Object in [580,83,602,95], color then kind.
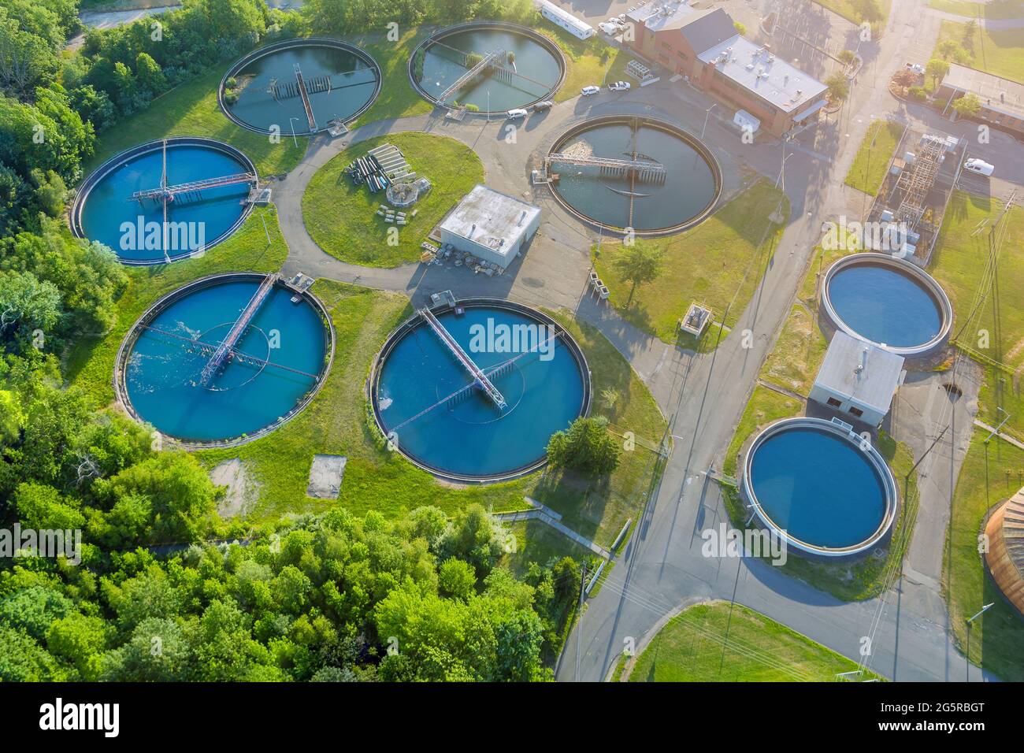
white vehicle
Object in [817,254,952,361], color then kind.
blue water tank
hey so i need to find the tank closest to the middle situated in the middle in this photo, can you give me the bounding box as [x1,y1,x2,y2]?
[371,296,590,485]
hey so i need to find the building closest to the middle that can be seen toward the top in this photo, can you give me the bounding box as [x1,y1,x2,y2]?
[432,184,540,270]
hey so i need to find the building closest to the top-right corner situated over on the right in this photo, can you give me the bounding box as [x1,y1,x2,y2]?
[940,62,1024,129]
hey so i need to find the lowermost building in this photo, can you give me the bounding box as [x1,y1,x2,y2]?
[809,330,907,425]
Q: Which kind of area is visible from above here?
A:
industrial area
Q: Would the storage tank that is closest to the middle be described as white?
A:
No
